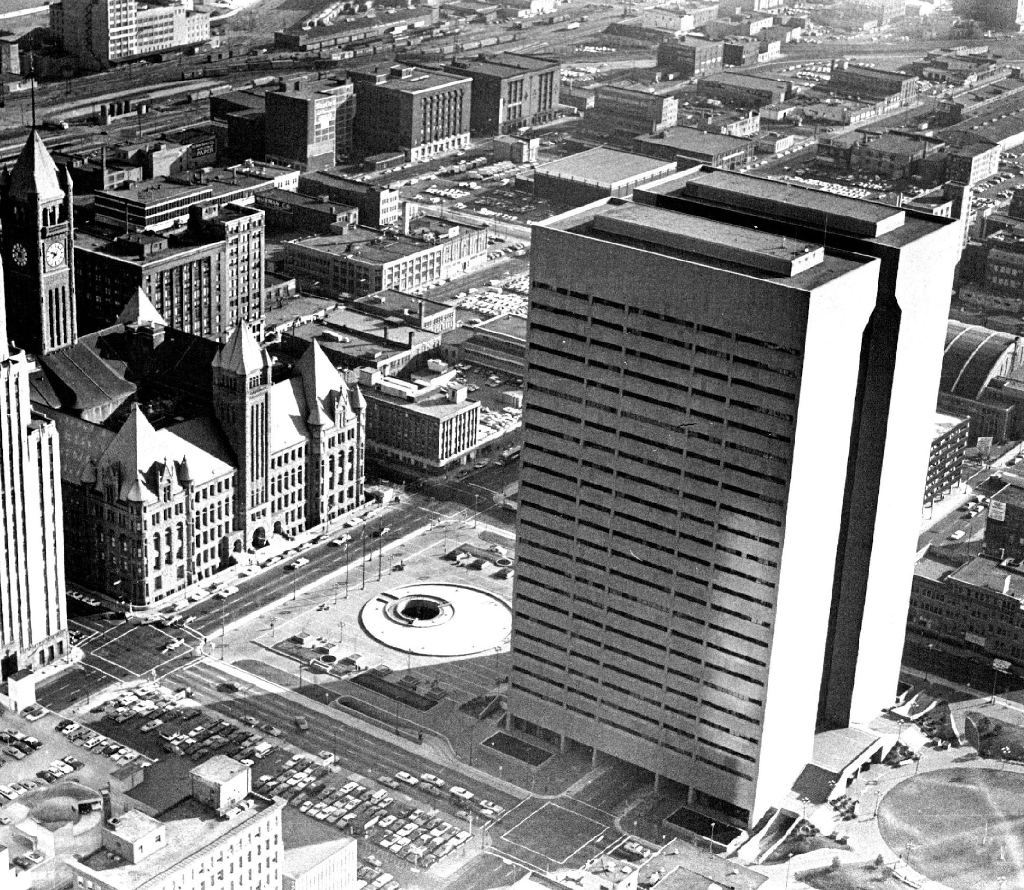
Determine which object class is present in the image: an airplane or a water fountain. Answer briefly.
water fountain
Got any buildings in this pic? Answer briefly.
Yes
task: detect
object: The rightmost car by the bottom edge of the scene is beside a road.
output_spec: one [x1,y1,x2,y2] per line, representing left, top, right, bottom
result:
[622,843,649,858]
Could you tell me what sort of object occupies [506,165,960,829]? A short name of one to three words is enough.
building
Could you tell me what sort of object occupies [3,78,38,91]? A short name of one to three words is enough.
shed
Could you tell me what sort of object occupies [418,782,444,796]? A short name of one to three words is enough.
car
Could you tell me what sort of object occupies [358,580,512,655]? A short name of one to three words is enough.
fountain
